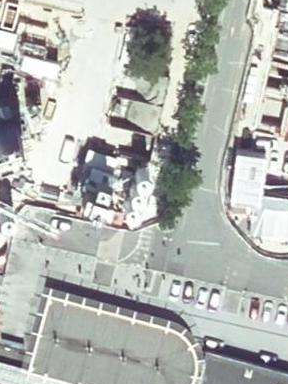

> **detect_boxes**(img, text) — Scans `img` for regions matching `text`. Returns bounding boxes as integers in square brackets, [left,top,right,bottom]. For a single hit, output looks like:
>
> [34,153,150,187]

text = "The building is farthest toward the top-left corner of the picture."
[0,30,20,55]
